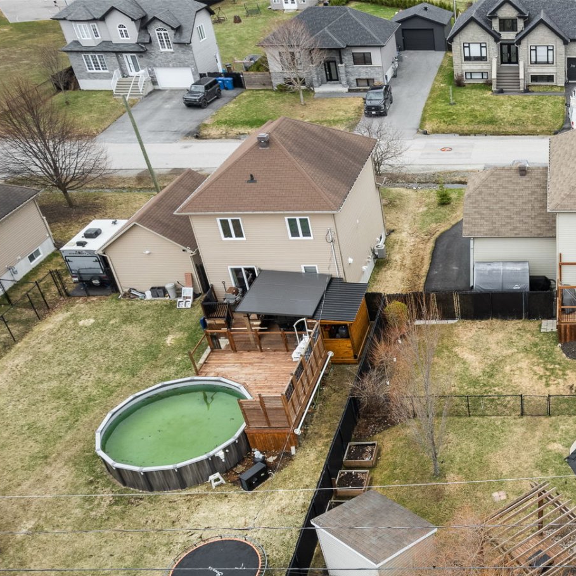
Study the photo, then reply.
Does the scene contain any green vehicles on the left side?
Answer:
No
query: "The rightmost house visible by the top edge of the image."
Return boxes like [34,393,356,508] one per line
[447,0,576,94]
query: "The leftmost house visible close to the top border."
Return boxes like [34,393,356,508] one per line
[55,0,226,97]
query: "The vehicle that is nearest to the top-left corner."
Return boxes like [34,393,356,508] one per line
[179,78,223,107]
